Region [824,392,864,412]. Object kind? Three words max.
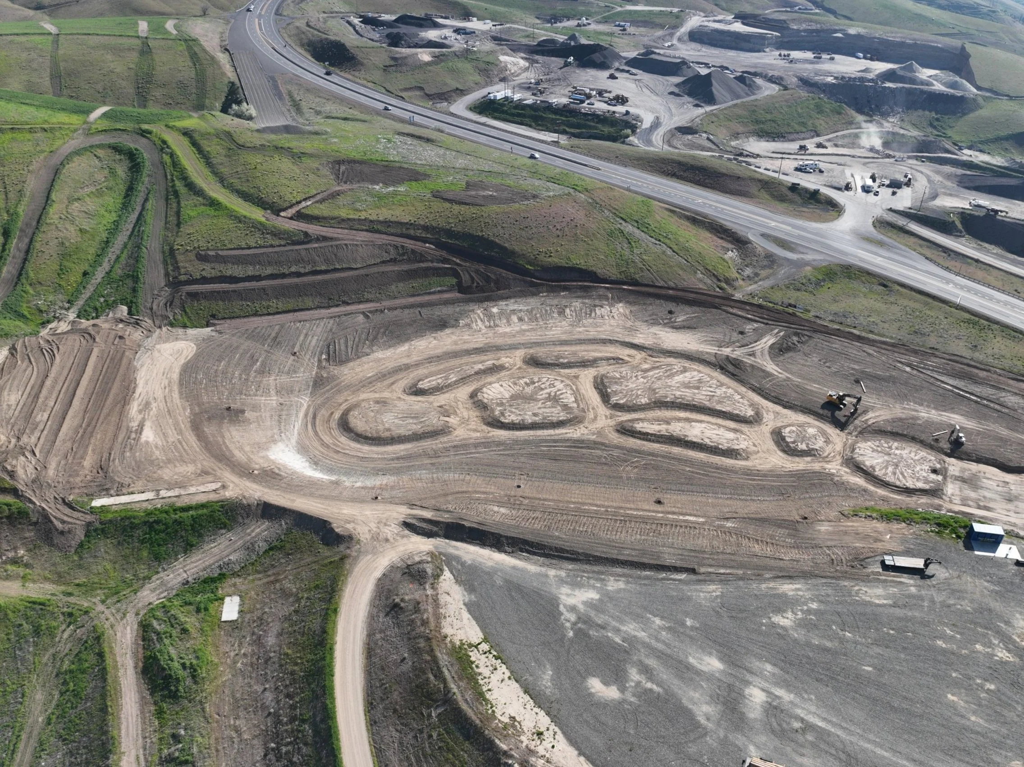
work vehicle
